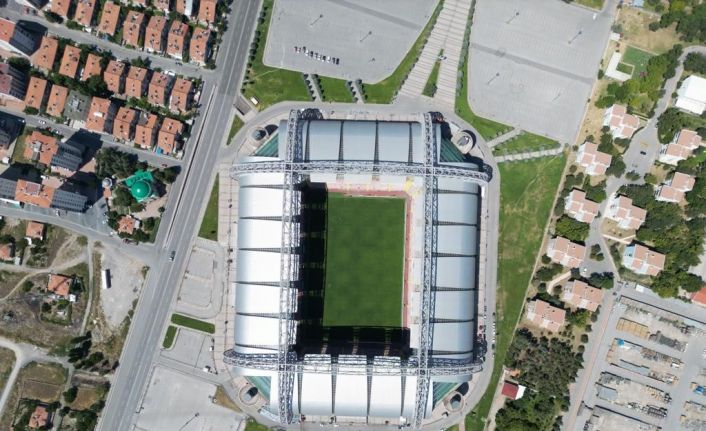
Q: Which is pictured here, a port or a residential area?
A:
residential area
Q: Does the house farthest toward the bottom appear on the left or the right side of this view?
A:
left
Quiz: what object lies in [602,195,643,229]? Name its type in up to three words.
house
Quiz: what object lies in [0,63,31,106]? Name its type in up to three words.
building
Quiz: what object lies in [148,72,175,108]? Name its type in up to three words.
house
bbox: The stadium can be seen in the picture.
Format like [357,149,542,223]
[223,108,490,429]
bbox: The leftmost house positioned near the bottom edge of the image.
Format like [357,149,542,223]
[28,403,54,429]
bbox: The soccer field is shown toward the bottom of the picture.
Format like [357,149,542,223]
[302,188,411,348]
